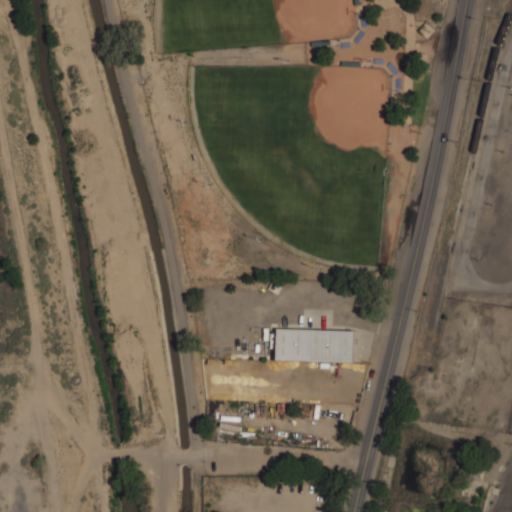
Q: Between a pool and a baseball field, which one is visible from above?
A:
baseball field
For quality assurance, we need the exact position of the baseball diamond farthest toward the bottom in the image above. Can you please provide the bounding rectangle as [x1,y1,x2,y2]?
[192,66,390,269]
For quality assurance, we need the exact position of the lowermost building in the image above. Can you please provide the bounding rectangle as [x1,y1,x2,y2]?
[275,330,354,362]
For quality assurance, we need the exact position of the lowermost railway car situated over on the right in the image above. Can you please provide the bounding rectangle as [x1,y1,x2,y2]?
[470,118,483,154]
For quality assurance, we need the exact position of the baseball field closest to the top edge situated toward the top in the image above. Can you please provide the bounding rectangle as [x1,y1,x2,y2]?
[157,0,357,53]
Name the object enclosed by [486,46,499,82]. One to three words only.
rail car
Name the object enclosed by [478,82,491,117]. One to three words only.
rail car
